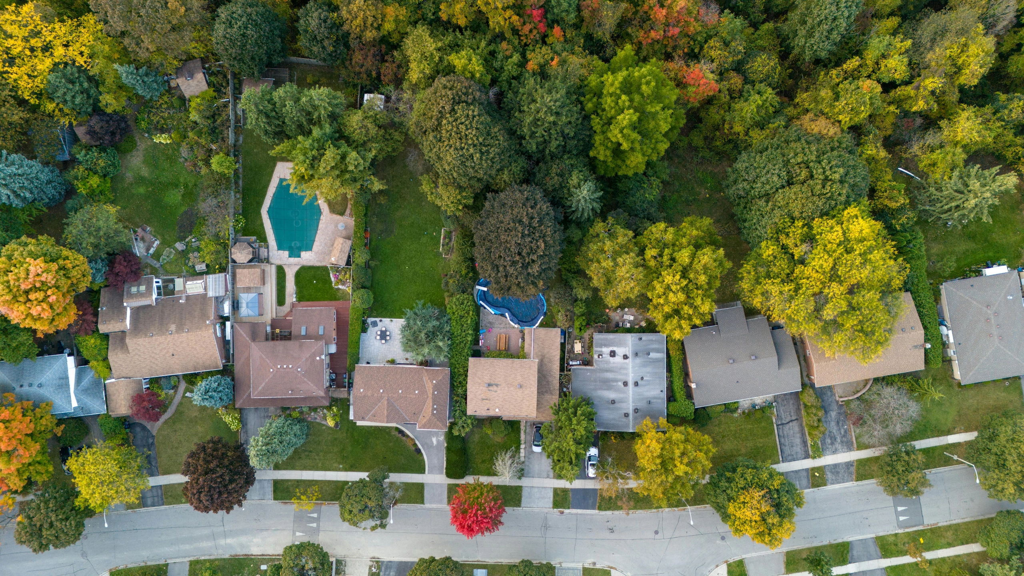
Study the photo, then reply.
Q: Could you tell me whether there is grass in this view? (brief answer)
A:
Yes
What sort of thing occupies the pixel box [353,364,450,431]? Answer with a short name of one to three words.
house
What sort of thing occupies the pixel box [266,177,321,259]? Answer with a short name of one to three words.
swimming pool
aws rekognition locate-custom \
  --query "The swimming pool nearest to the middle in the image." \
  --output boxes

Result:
[475,276,547,329]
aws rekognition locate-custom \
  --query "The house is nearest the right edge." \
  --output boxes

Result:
[936,265,1024,385]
